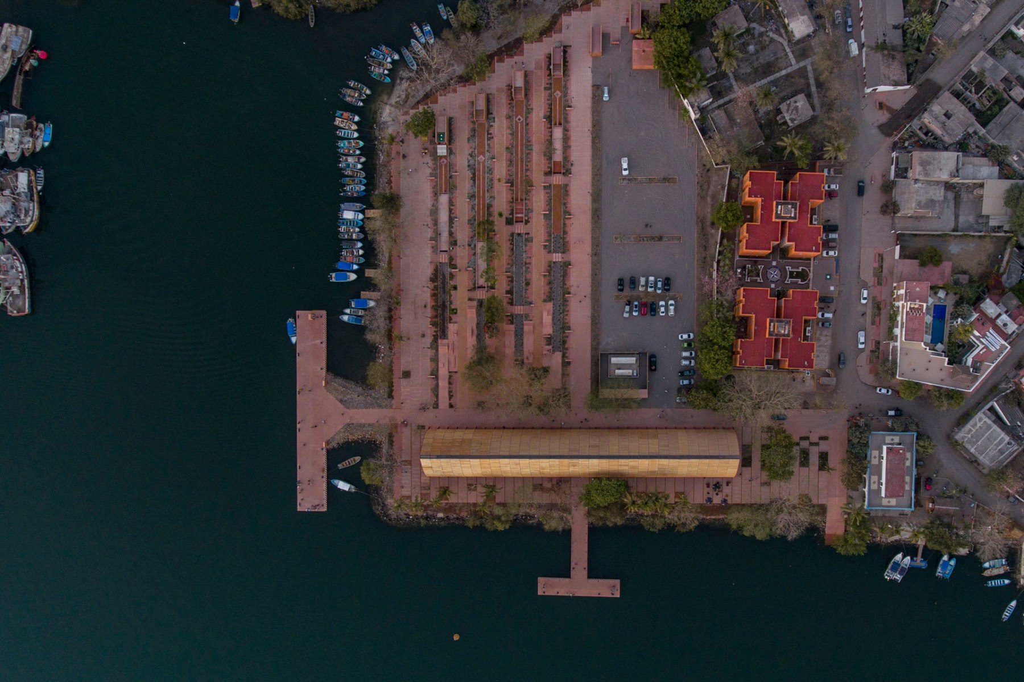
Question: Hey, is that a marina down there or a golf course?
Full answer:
It's a marina.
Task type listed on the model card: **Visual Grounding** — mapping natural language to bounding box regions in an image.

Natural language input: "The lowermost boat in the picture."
[1000,601,1017,623]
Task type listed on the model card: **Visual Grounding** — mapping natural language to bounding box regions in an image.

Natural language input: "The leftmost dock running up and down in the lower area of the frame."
[297,311,392,511]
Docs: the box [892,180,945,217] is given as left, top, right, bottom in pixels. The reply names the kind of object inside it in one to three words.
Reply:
house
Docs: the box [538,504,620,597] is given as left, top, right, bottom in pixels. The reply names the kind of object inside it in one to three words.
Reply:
pier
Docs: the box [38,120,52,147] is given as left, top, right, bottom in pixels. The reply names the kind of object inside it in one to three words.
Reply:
boat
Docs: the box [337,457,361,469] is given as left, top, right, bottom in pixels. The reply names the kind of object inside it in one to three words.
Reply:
boat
